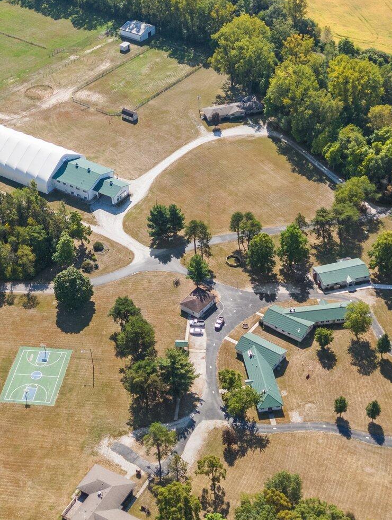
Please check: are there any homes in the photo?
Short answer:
Yes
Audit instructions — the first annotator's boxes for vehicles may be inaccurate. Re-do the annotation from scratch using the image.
[189,318,206,326]
[214,317,225,330]
[190,328,203,334]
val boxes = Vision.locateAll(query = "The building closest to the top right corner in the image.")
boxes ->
[202,102,262,122]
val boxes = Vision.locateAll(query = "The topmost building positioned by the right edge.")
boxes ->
[311,258,378,298]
